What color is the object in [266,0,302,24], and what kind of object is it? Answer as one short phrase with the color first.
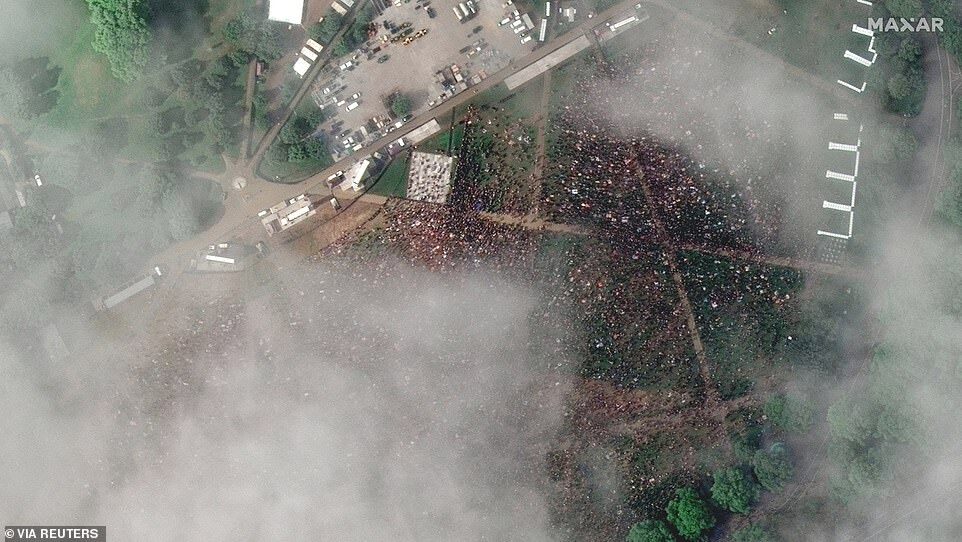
white tent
